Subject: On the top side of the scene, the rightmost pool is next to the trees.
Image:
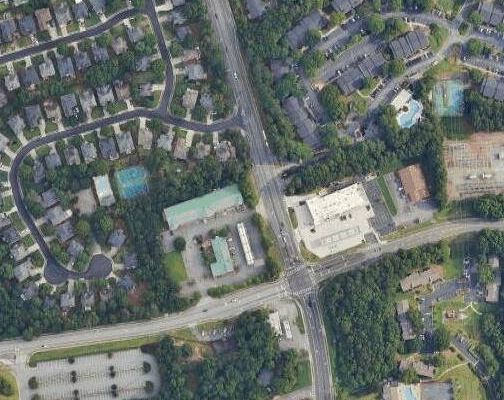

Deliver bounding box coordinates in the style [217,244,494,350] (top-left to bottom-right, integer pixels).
[397,95,423,130]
